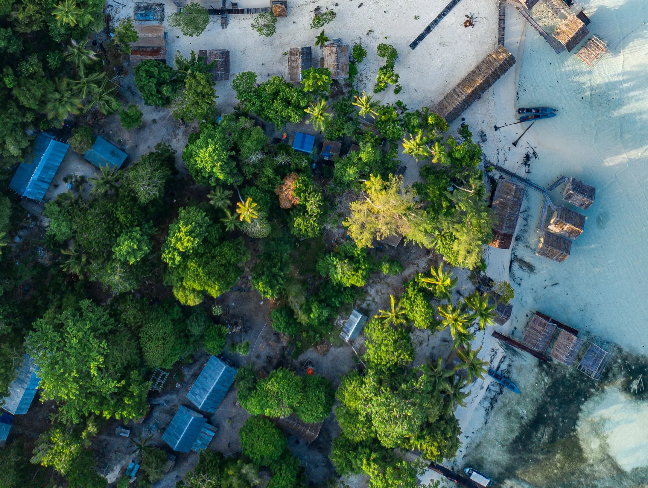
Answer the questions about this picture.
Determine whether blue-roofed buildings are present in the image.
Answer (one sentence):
Yes, this view includes a blue-roofed building.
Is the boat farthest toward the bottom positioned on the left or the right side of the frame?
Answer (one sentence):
It is on the right.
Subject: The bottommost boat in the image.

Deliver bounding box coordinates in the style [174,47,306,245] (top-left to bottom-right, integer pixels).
[464,467,493,488]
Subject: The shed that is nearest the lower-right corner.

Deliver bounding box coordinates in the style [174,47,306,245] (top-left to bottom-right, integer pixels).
[547,324,583,365]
